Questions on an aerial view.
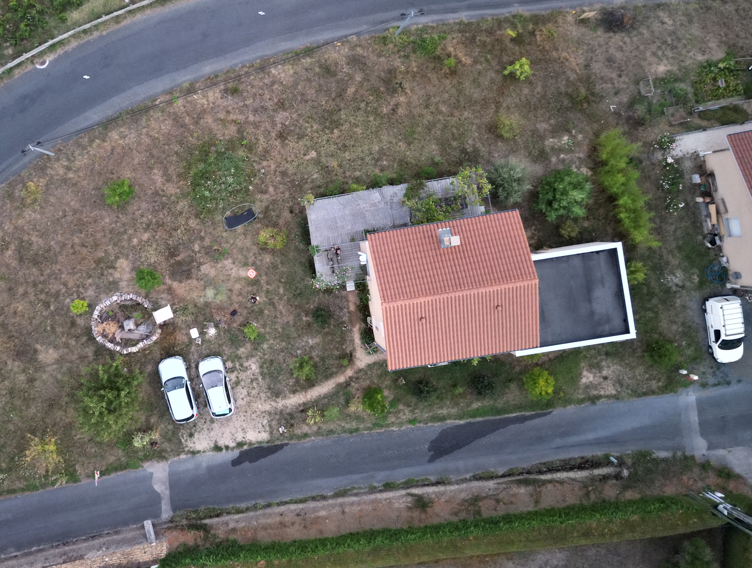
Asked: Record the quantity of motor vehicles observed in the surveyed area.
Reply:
three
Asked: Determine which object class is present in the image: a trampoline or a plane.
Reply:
trampoline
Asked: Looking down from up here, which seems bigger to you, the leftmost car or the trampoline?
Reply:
the car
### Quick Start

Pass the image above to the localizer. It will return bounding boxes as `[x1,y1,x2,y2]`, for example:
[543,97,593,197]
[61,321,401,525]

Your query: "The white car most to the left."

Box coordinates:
[159,355,200,425]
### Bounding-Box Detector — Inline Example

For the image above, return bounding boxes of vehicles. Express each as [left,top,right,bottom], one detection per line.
[201,355,239,420]
[702,296,749,364]
[159,355,200,425]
